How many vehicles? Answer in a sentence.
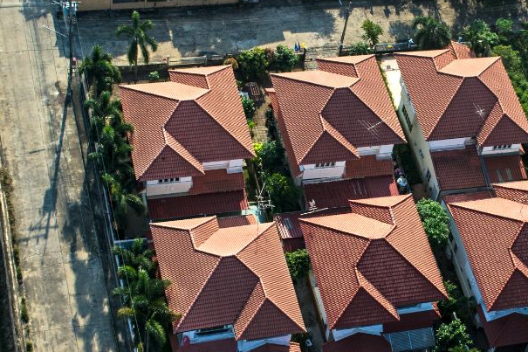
The count of vehicles is 0.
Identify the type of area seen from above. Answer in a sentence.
The picture captures a residential area.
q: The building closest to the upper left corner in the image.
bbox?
[119,65,256,240]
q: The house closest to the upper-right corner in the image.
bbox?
[393,34,528,209]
